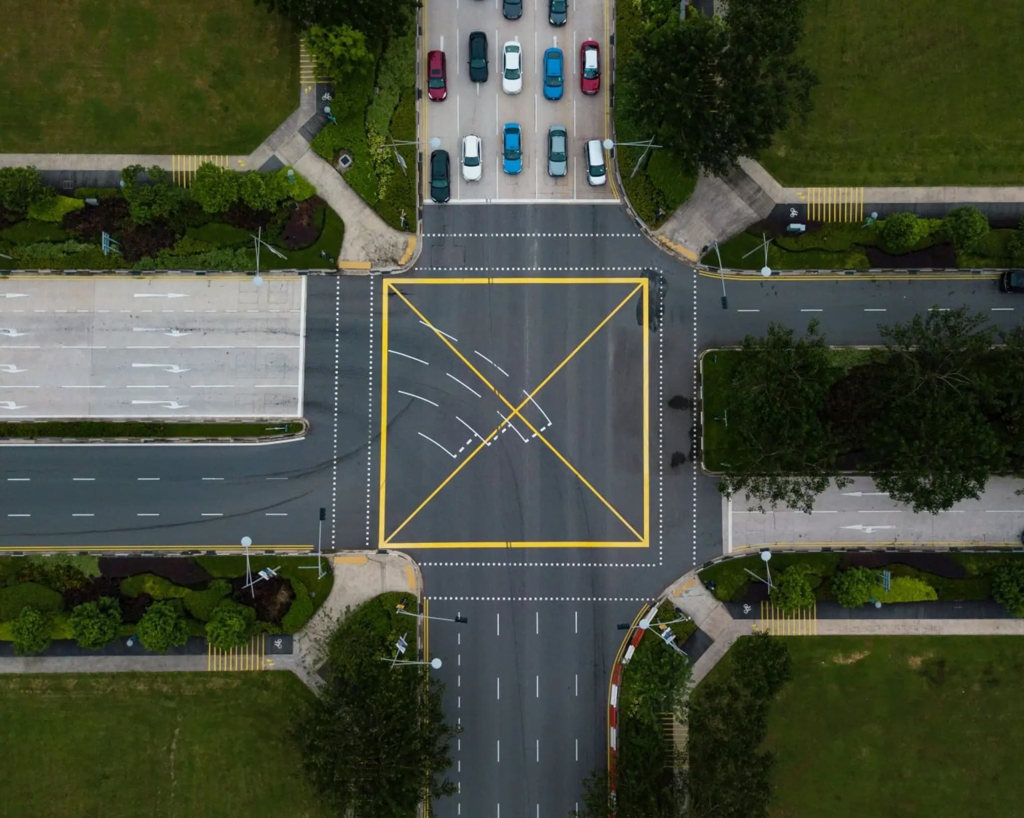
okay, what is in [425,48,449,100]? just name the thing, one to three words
car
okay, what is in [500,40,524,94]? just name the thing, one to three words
car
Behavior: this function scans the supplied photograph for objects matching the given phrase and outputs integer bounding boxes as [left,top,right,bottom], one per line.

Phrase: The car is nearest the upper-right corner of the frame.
[1000,270,1024,292]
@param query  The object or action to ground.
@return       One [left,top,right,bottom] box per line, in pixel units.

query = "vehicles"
[546,0,569,26]
[425,48,449,100]
[502,0,523,19]
[460,131,483,180]
[427,148,452,201]
[501,120,524,174]
[578,39,602,93]
[1000,270,1024,292]
[546,122,570,176]
[541,45,566,98]
[466,27,490,81]
[500,40,524,94]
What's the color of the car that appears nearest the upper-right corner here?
black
